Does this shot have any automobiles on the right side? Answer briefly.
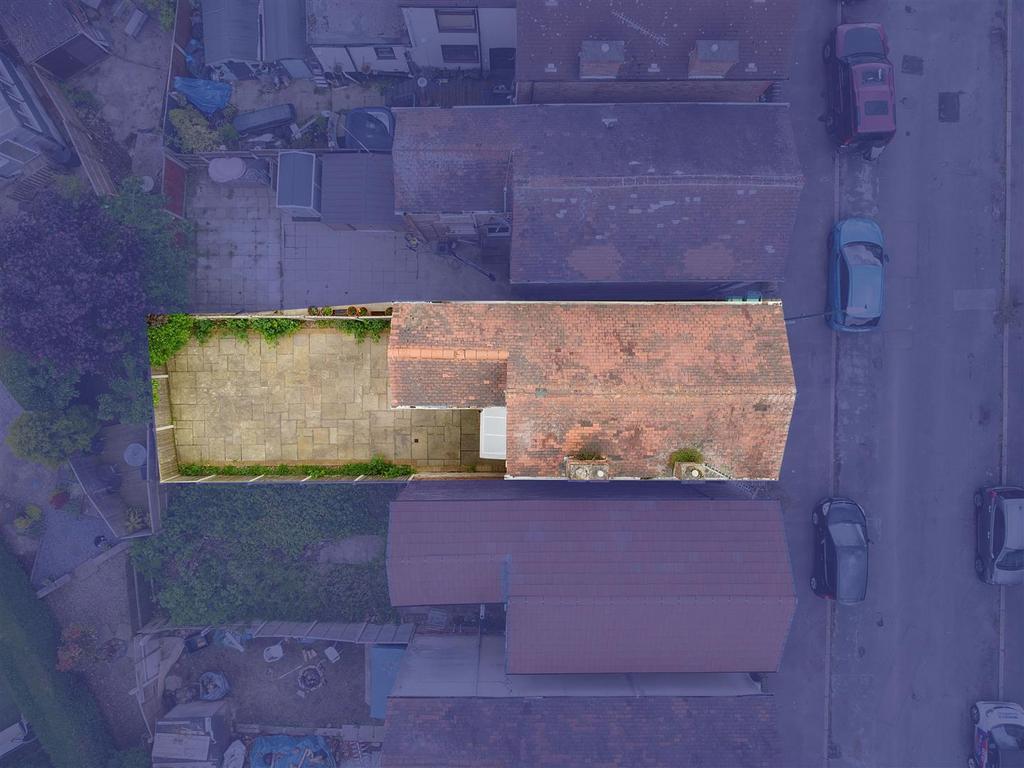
Yes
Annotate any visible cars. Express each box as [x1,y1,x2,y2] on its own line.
[968,698,1024,768]
[826,24,895,146]
[811,495,873,604]
[973,484,1024,584]
[827,219,890,332]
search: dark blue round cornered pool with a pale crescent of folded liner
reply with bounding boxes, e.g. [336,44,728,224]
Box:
[346,107,393,150]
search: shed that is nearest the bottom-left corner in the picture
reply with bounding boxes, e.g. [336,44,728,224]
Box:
[152,700,236,768]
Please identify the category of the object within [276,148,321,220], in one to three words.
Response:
shed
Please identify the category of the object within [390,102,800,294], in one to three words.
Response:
house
